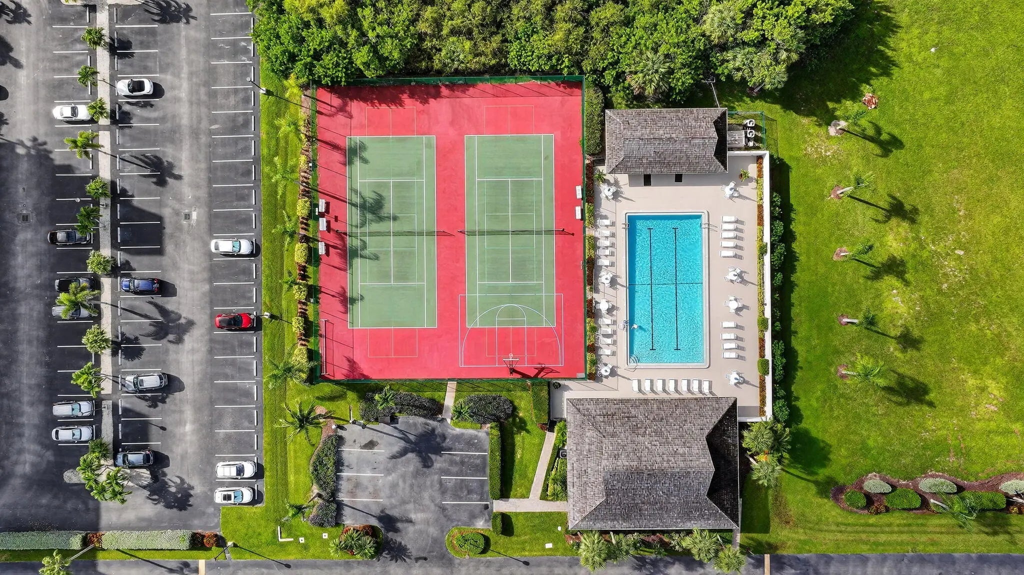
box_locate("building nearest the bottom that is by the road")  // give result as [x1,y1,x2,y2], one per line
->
[567,397,739,530]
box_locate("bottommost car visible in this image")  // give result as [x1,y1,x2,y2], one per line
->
[214,486,254,505]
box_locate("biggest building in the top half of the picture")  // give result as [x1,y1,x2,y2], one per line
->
[605,107,729,174]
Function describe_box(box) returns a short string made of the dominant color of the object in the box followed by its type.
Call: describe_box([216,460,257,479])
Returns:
white car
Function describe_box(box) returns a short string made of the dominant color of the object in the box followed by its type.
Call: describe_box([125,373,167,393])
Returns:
gray car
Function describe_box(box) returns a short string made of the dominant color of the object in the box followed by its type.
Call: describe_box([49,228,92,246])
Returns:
black car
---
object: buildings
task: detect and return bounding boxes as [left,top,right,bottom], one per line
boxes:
[567,397,739,530]
[605,107,729,174]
